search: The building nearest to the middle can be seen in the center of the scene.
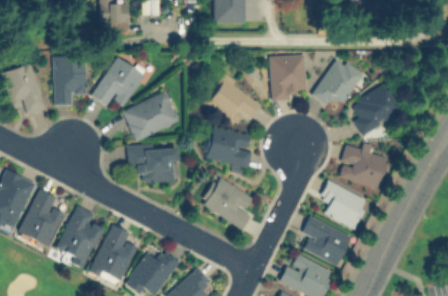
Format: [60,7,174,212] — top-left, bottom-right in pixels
[206,126,251,171]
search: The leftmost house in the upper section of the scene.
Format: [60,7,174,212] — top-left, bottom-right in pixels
[4,66,46,113]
